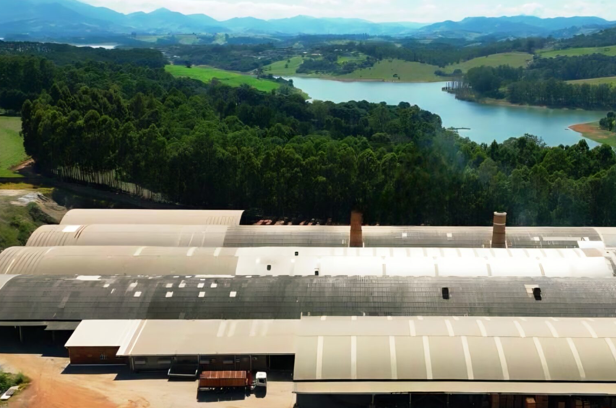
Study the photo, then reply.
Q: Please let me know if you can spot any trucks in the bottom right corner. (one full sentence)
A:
No, looking in the bottom right corner, there is no truck.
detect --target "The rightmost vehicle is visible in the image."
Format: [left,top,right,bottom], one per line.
[197,371,268,396]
